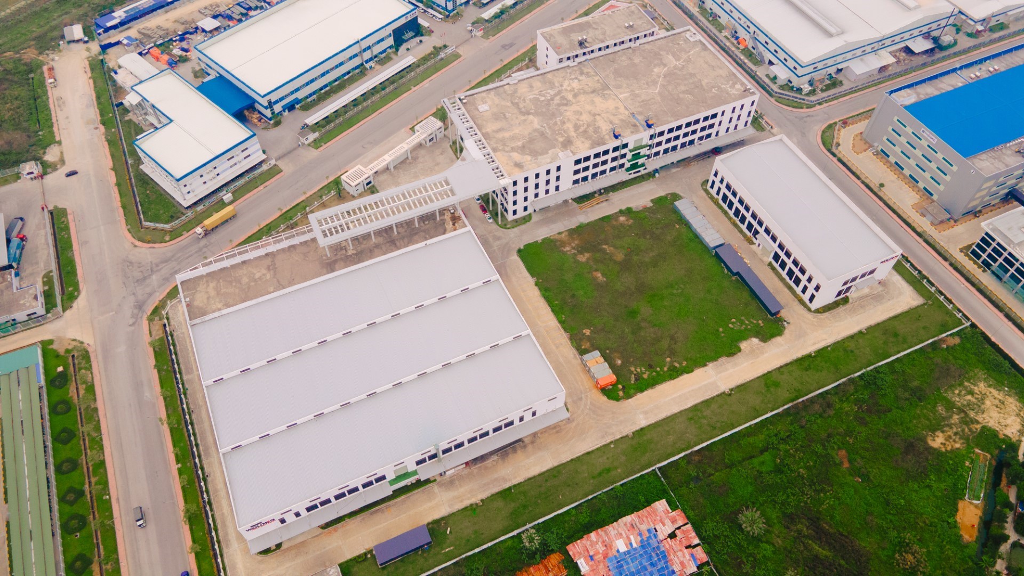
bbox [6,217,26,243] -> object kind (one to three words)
vehicle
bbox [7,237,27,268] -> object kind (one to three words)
vehicle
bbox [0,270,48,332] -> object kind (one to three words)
building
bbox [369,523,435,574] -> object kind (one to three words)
shed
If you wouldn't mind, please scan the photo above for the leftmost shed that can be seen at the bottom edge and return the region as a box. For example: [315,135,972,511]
[6,362,56,576]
